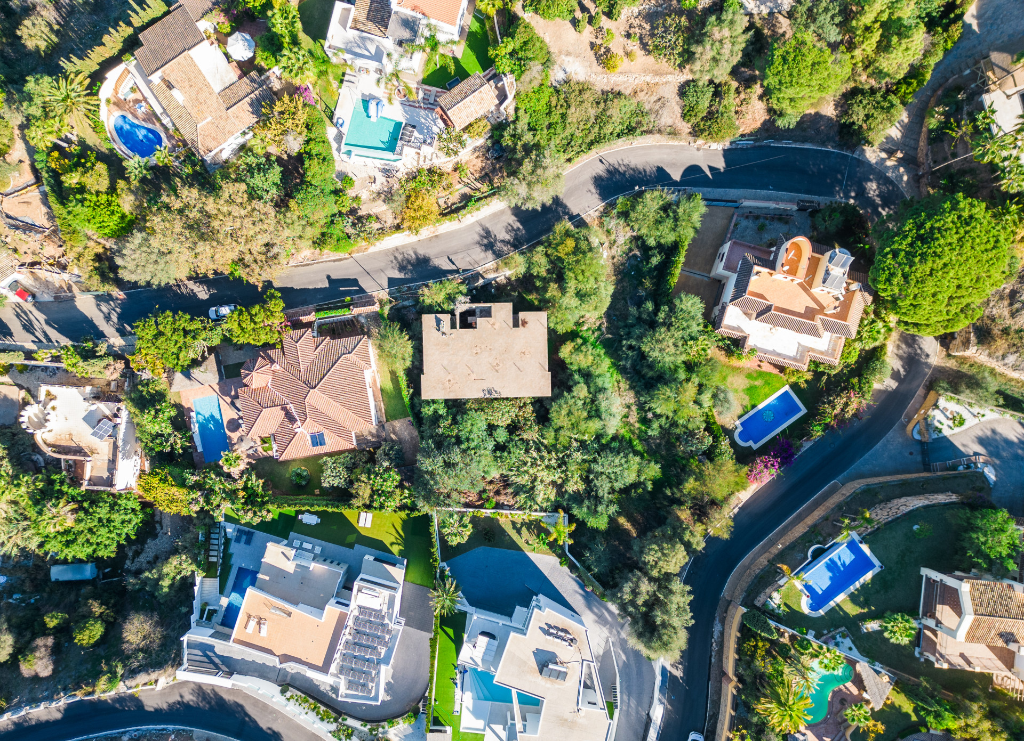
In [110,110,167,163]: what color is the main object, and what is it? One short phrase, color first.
blue swimming pool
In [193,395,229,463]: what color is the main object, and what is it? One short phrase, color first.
blue swimming pool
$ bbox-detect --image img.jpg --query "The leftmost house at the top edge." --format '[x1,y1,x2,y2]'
[134,0,278,176]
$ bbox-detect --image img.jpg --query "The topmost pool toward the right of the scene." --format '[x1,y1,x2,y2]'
[732,384,809,450]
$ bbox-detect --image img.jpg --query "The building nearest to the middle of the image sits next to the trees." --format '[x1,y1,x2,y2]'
[421,303,551,399]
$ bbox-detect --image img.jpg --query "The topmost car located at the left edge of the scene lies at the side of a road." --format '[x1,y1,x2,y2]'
[8,282,36,304]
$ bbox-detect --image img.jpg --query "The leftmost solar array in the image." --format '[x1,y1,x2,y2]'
[88,415,121,444]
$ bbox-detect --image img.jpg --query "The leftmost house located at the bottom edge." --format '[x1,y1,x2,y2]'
[230,532,413,705]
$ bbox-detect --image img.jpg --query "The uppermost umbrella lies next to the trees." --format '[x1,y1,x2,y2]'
[226,31,257,62]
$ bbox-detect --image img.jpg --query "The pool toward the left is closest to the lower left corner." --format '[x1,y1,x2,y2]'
[221,567,258,631]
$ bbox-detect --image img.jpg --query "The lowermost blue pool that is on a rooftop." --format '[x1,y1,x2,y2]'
[461,664,539,705]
